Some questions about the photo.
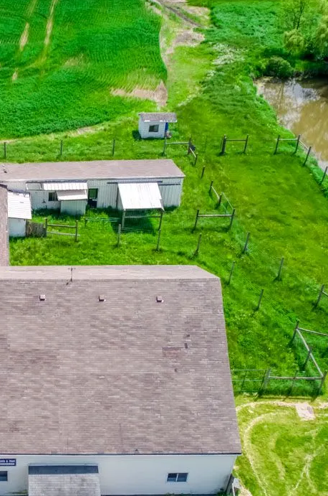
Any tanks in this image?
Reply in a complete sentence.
No, no tank is visible in the scene.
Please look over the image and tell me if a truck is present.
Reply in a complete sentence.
No, there appears to be no truck in this shot.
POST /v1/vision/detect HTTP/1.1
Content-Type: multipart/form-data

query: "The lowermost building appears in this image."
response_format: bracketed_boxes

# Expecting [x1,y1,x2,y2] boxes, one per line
[0,266,244,496]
